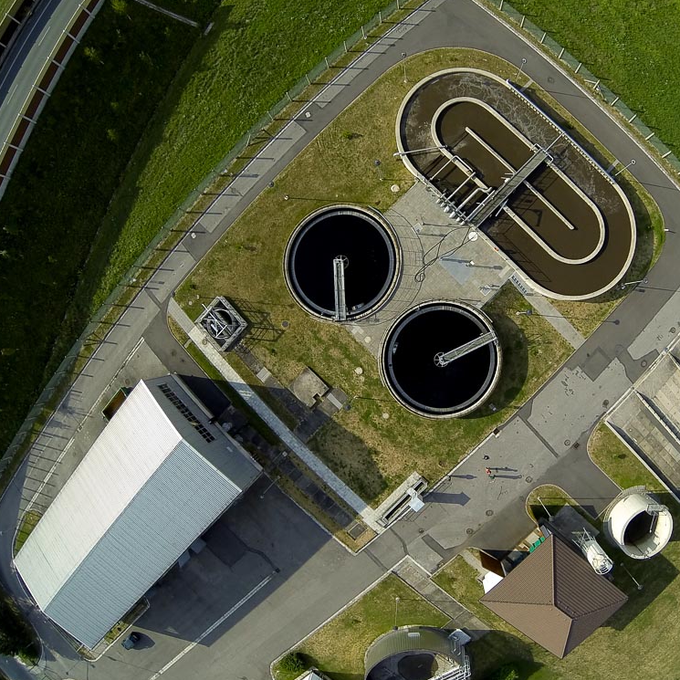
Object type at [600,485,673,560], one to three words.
silo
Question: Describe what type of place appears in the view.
industrial area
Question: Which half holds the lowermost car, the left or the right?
left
